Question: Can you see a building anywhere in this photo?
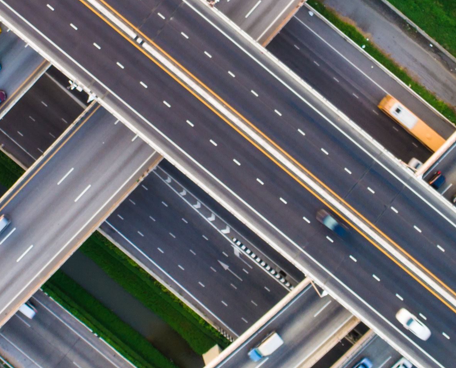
No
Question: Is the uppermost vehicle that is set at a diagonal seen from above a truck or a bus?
bus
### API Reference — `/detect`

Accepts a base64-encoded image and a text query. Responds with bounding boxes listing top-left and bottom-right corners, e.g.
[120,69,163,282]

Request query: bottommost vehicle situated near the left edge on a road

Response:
[17,301,40,323]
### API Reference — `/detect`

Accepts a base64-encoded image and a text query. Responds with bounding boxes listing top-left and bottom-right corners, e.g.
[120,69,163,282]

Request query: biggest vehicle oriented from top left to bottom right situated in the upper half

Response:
[377,94,448,156]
